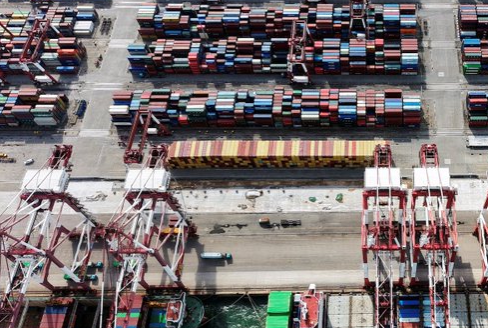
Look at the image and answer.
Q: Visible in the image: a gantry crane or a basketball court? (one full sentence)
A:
I can see a gantry crane in this picture.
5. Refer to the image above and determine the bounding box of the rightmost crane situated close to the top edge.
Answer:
[346,0,372,45]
